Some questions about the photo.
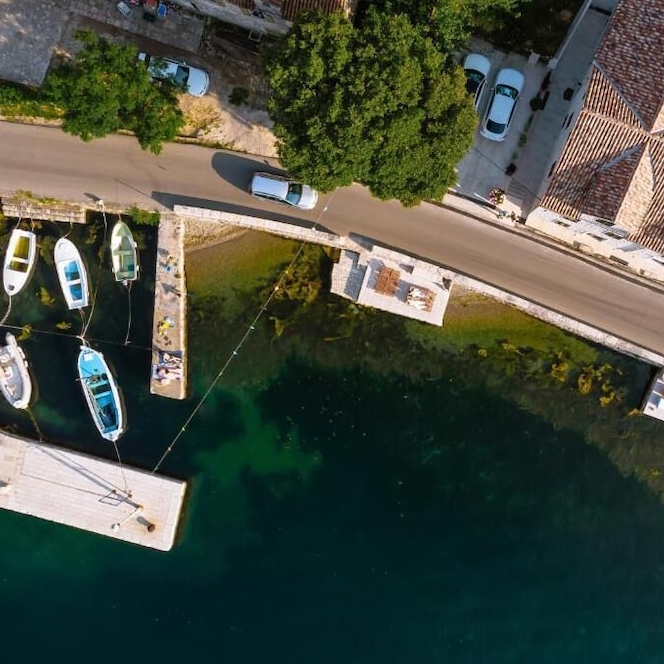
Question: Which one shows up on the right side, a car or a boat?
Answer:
car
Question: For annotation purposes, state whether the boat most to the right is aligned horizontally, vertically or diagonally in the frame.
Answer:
vertically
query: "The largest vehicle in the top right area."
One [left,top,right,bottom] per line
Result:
[482,64,523,140]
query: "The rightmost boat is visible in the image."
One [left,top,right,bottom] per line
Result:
[109,220,144,287]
